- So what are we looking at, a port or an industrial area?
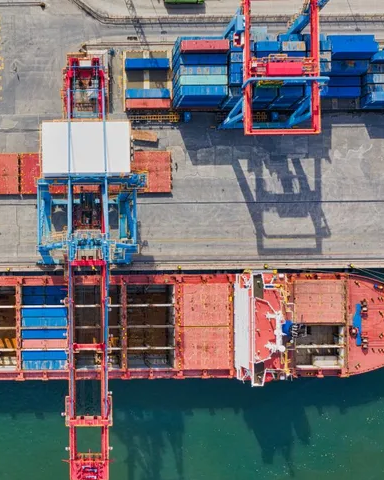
port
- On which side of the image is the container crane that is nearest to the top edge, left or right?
right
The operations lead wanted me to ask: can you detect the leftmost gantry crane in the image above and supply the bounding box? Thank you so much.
[32,50,152,480]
